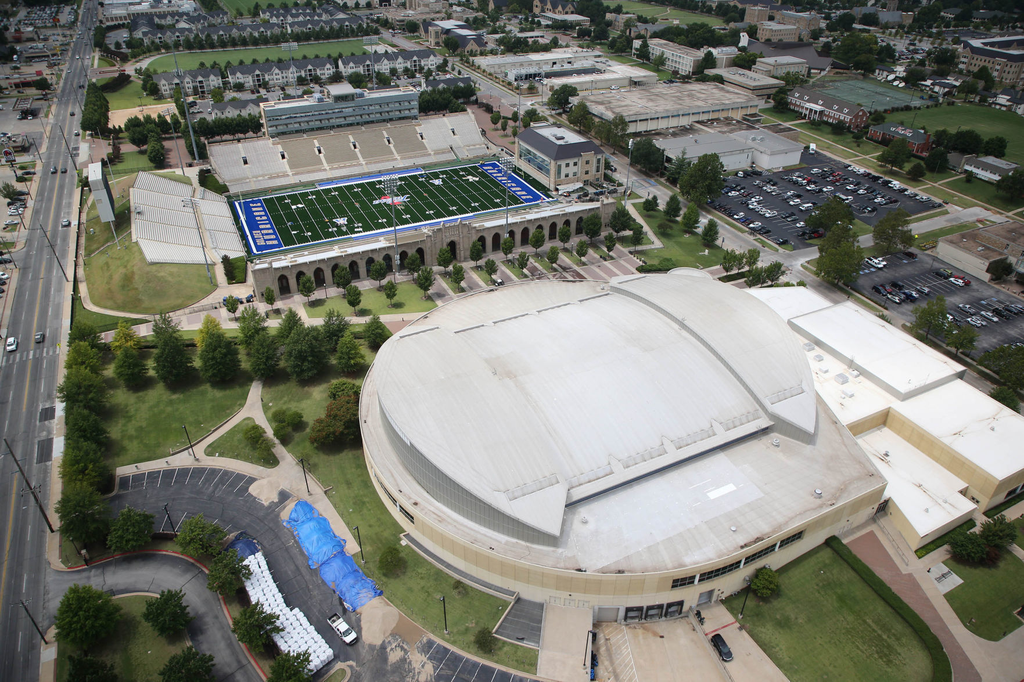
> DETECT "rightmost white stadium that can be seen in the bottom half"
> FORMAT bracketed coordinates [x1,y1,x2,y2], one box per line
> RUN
[359,264,888,621]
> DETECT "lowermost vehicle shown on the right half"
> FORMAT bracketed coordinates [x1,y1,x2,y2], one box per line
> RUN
[713,635,732,664]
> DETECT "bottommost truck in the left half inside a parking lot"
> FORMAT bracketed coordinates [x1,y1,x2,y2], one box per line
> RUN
[329,614,358,646]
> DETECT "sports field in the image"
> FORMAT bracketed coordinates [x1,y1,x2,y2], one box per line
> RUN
[228,159,569,256]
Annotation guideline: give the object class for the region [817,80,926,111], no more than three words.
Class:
tennis court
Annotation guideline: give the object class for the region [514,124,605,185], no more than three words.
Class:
building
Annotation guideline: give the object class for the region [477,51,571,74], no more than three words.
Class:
building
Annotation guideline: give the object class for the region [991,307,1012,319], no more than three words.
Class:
vehicle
